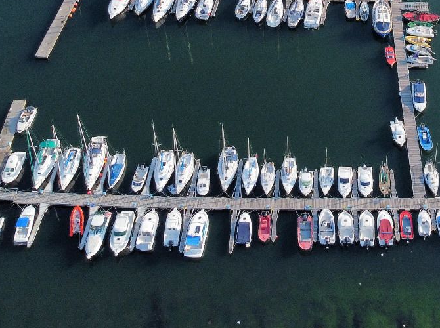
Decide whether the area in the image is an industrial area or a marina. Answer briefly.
marina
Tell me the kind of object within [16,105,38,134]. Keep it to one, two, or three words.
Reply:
boat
